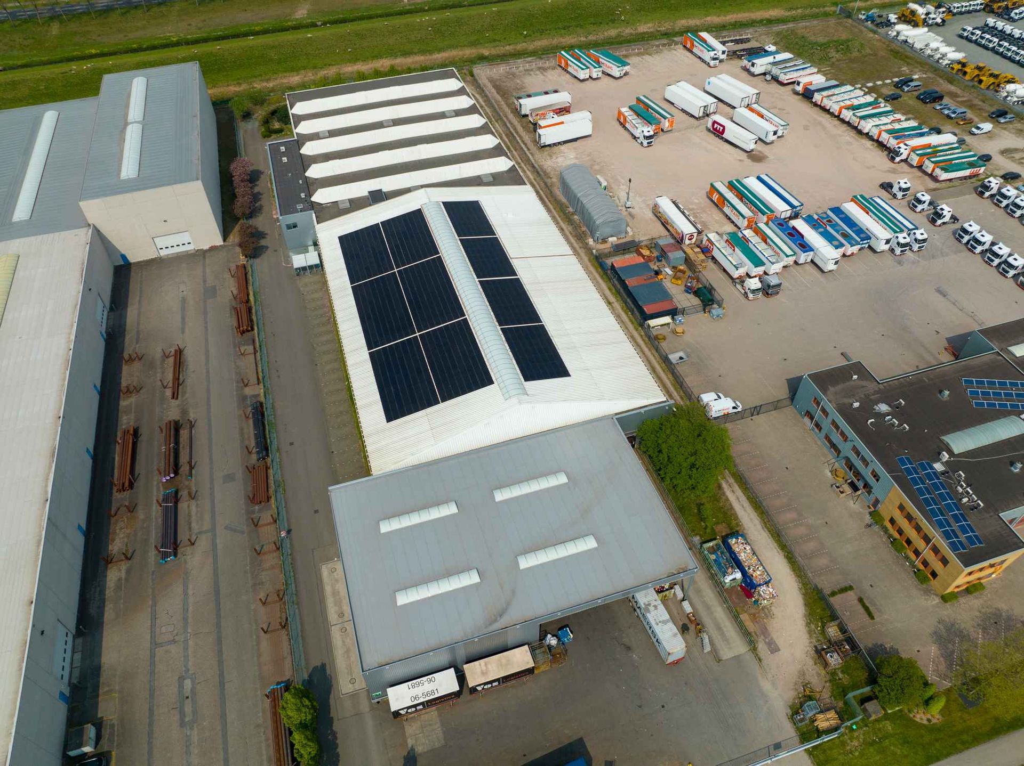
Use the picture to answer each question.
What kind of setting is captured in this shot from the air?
industrial area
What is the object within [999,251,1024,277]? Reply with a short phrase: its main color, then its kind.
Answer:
white truck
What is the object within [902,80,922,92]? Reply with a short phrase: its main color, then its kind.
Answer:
gray vehicle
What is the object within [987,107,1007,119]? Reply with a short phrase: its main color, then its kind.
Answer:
black vehicle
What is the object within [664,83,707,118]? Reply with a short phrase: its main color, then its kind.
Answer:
white trailer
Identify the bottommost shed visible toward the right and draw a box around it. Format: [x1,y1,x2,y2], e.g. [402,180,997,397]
[858,696,888,724]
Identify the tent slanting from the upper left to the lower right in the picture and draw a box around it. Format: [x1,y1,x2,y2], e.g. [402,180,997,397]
[563,166,624,239]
